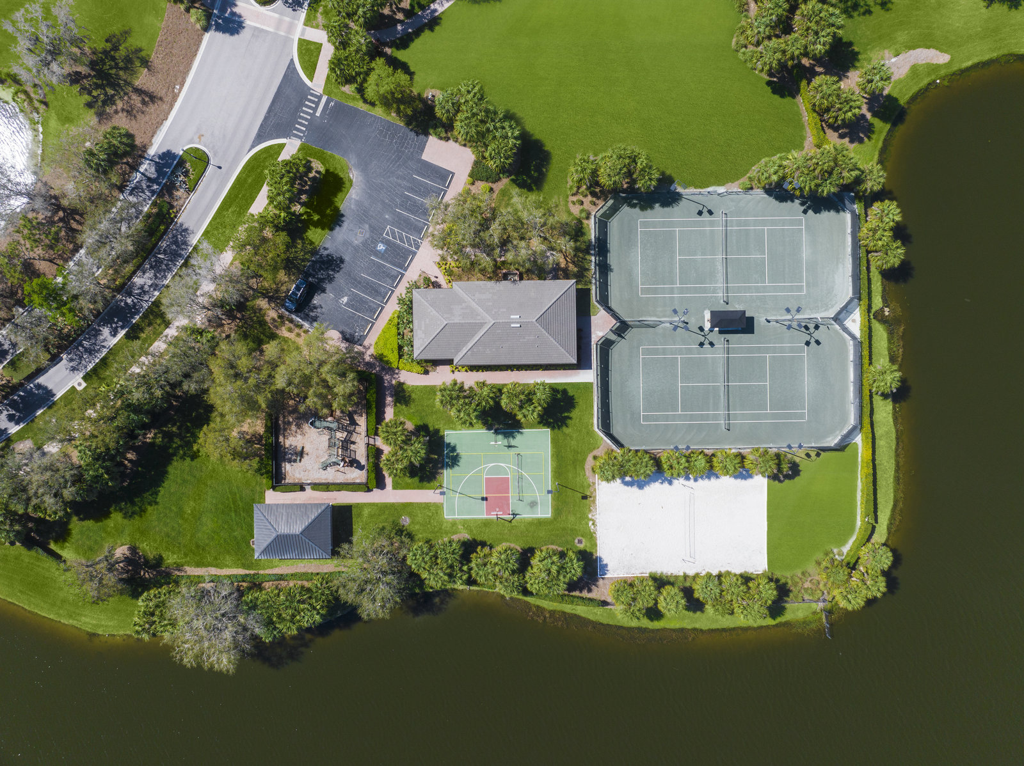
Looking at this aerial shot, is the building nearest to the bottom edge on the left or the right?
left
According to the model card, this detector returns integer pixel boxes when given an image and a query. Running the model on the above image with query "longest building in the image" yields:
[413,281,578,365]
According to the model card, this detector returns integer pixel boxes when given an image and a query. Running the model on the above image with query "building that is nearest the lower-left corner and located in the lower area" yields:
[254,503,333,559]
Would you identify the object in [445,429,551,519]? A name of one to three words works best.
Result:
basketball court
